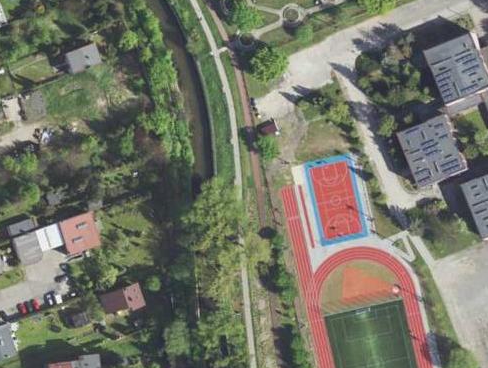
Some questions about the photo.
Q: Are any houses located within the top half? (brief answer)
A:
Yes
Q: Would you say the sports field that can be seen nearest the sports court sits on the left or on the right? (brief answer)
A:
right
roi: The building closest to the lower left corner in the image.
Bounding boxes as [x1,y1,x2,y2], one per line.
[0,323,19,359]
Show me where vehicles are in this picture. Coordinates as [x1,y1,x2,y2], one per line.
[32,298,39,310]
[56,276,68,281]
[45,293,52,305]
[60,262,68,273]
[54,294,62,305]
[0,309,6,320]
[25,300,32,311]
[18,302,25,314]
